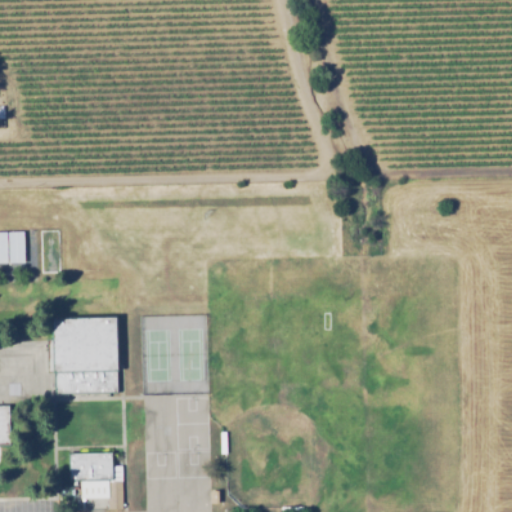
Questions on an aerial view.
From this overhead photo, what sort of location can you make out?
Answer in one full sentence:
It's a sports ground.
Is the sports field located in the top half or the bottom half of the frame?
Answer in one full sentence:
You can find the sports field in the bottom half.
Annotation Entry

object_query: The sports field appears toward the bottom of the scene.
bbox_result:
[214,260,457,512]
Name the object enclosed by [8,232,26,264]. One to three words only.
building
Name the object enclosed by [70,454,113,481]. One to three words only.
building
